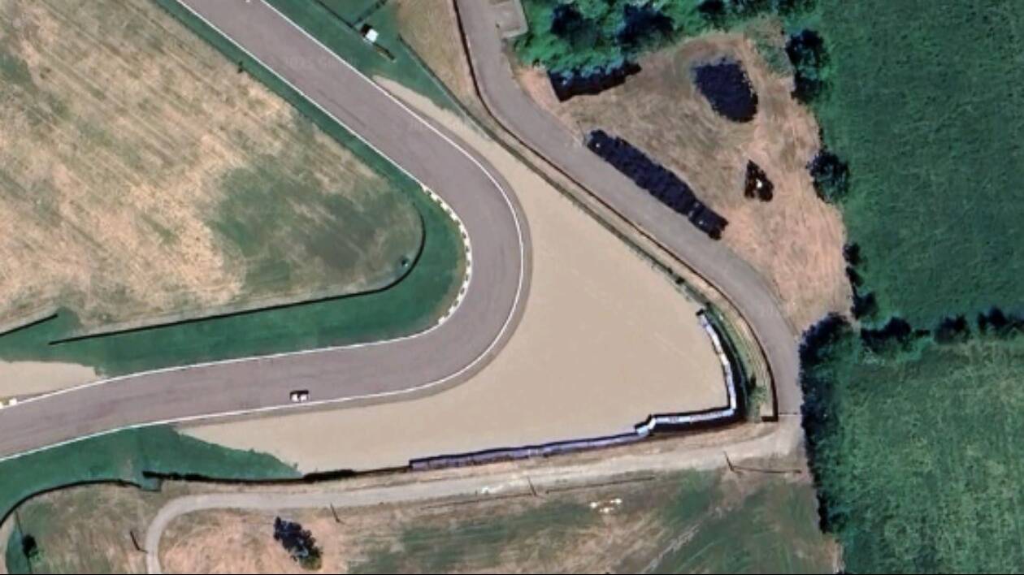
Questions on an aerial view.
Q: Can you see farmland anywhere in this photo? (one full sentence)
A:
Yes, the picture does contain farmland.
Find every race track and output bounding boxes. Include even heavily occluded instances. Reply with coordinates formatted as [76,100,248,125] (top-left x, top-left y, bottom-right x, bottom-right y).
[0,0,524,462]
